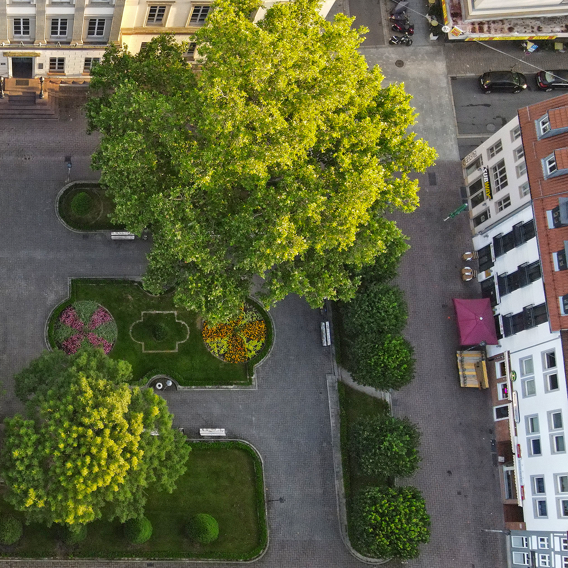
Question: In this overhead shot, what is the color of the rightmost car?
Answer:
black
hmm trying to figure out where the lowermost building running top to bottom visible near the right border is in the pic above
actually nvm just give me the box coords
[483,330,568,529]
